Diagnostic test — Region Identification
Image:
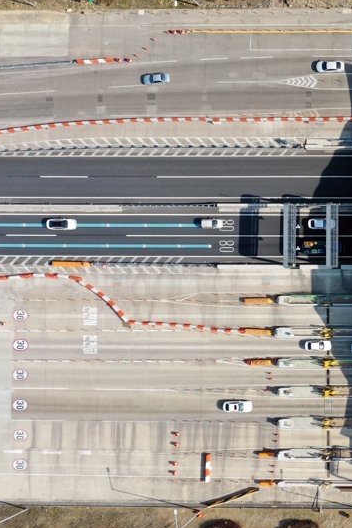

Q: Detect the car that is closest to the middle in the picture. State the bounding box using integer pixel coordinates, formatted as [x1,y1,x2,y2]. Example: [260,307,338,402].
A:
[199,218,225,231]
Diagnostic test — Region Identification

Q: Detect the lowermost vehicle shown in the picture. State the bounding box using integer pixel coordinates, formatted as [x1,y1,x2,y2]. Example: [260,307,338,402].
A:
[221,400,253,414]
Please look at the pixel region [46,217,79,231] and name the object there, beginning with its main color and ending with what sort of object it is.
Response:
white car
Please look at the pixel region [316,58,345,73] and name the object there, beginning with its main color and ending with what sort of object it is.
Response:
white car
